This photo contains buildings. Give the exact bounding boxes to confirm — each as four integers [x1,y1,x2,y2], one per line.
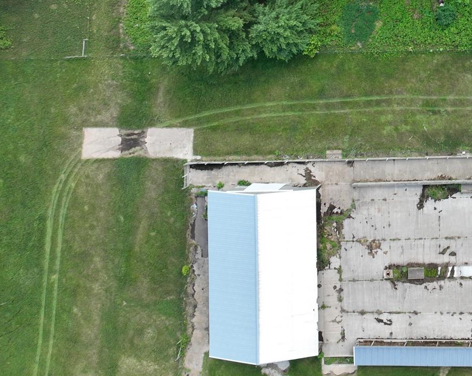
[352,339,472,369]
[207,180,324,366]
